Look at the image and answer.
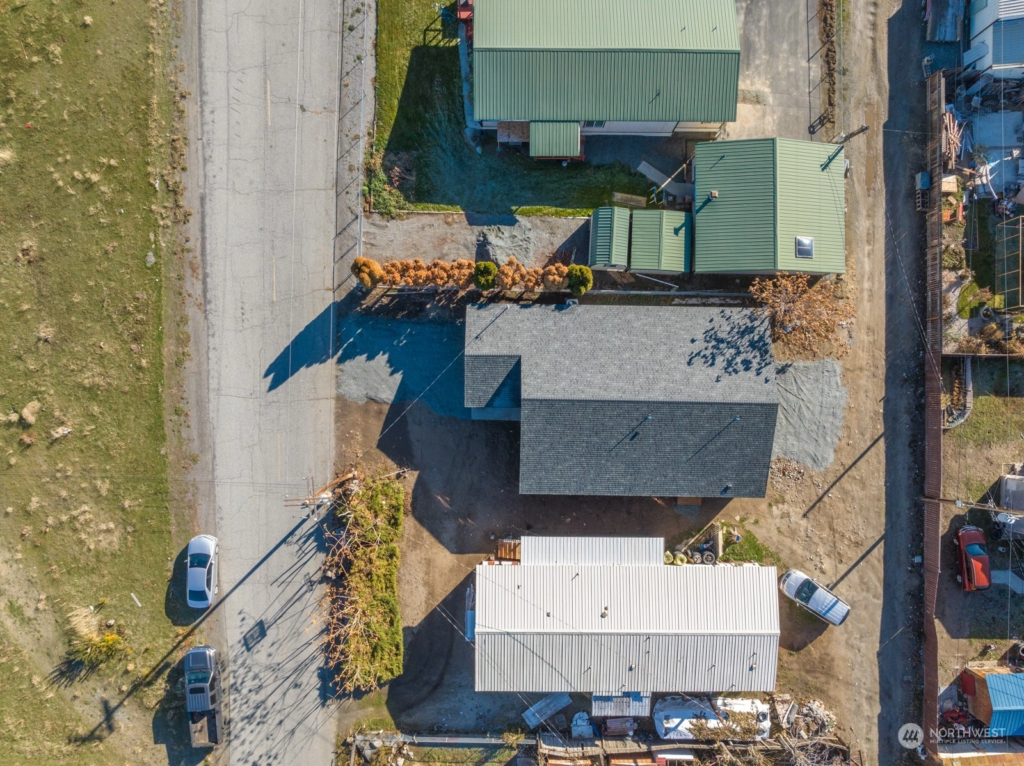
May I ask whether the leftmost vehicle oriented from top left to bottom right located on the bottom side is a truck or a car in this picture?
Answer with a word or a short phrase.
car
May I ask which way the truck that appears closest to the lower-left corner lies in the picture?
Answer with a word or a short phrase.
up and down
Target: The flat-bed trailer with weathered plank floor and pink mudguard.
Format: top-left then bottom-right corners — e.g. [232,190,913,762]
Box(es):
[915,0,968,42]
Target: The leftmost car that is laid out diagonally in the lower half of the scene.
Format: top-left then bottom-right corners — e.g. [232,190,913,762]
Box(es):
[778,567,856,631]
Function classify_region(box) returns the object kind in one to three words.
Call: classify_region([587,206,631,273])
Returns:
shed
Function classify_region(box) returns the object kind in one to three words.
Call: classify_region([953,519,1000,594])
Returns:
car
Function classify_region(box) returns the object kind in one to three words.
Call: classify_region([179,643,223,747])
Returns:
truck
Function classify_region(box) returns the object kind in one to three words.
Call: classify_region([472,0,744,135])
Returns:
house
